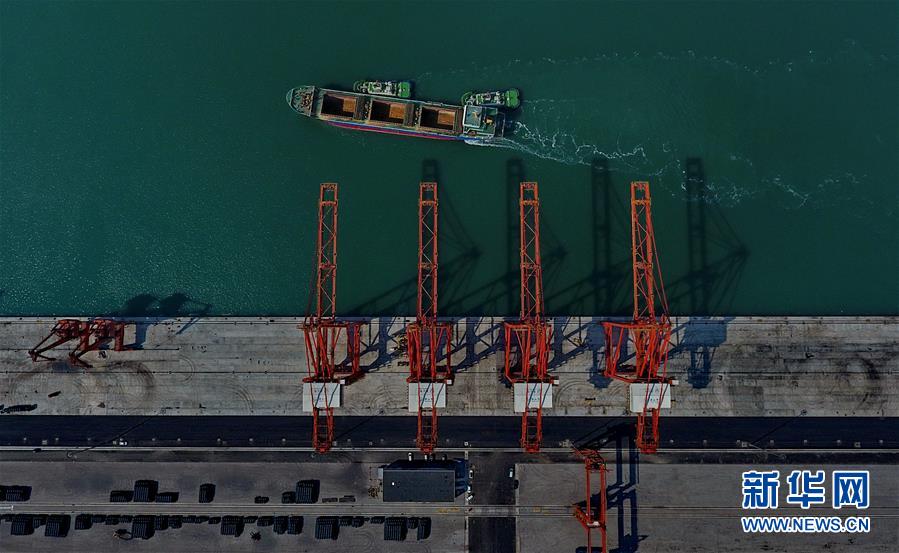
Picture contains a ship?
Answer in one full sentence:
Yes, this view includes a ship.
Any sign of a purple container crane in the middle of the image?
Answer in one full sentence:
No, I can find no purple container crane in the middle of the image.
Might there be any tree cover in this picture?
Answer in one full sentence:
No, the scene doesn't show any tree cover.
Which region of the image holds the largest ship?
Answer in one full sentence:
The largest ship is in the top part of the image.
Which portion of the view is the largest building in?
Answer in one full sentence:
Look in the bottom portion of the view to spot the largest building.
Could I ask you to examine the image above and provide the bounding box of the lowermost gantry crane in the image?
[574,448,617,553]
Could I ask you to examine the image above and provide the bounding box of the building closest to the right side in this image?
[383,466,454,502]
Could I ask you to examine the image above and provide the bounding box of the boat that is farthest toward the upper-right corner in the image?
[461,88,520,108]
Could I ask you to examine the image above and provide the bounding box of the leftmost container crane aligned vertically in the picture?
[298,183,366,455]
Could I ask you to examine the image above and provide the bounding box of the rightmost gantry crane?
[596,182,678,456]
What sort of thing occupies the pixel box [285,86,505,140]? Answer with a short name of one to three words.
ship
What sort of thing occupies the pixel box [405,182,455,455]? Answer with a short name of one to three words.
container crane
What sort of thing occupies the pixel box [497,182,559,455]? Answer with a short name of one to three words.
container crane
